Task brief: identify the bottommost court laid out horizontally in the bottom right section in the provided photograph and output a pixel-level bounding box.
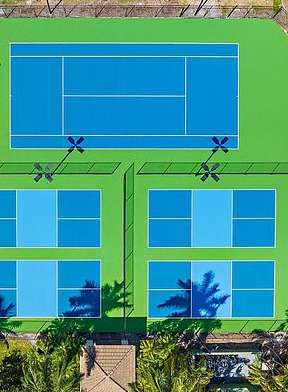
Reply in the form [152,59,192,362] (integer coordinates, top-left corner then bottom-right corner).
[148,260,276,318]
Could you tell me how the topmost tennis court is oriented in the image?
horizontally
